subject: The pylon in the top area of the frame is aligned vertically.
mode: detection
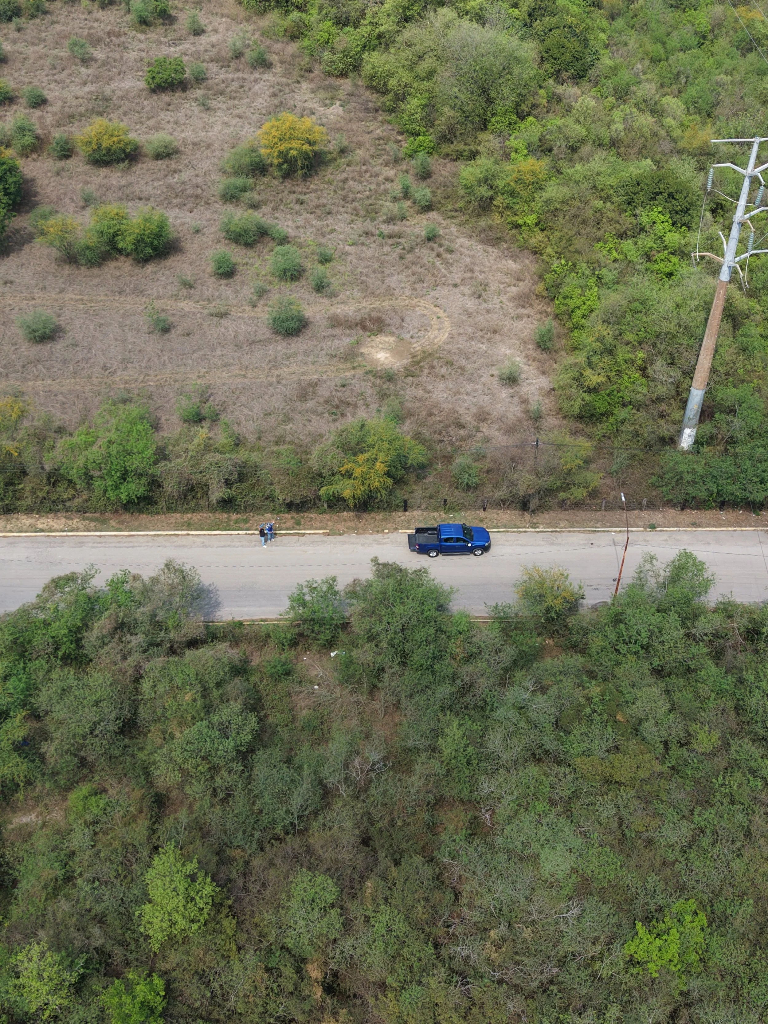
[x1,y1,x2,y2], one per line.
[676,136,768,452]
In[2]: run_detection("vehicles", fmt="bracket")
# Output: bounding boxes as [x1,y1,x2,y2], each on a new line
[408,521,491,557]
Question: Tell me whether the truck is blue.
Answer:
Yes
